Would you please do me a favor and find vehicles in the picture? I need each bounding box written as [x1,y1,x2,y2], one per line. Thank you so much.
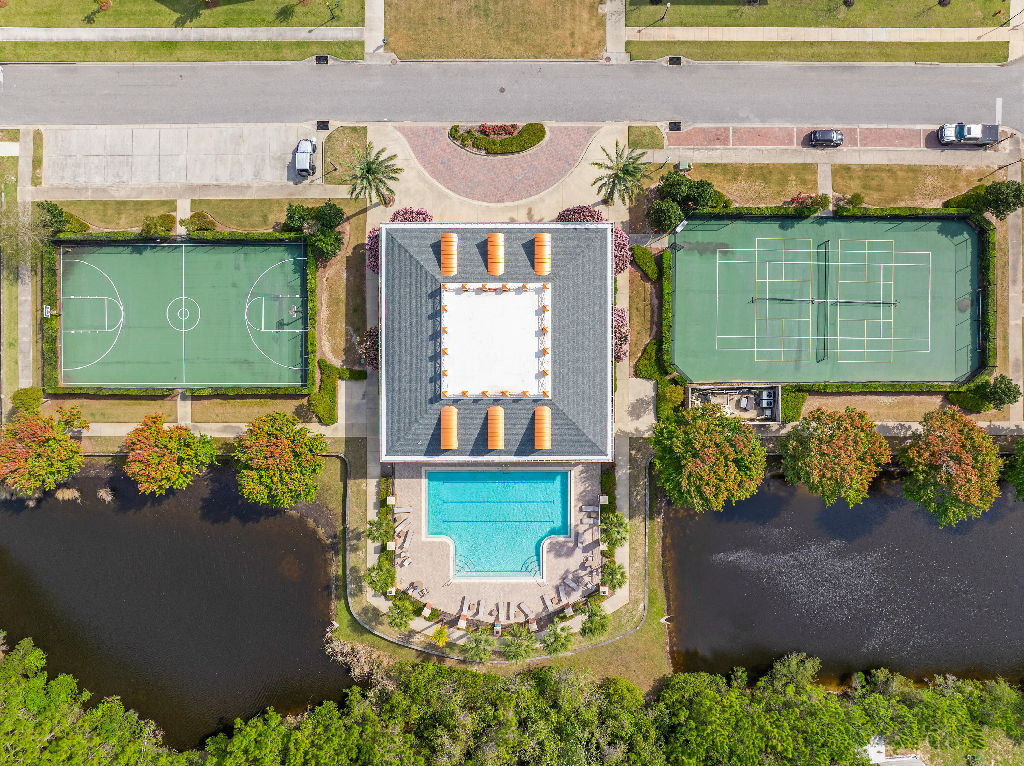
[809,125,844,145]
[937,122,997,147]
[295,135,317,175]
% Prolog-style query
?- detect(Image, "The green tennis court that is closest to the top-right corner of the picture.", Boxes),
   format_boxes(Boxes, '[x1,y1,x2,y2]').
[670,217,978,383]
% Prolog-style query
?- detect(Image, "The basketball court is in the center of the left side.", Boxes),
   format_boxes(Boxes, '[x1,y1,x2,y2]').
[57,241,308,388]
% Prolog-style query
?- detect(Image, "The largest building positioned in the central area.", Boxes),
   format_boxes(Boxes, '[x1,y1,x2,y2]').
[380,222,613,463]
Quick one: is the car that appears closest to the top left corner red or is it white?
white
